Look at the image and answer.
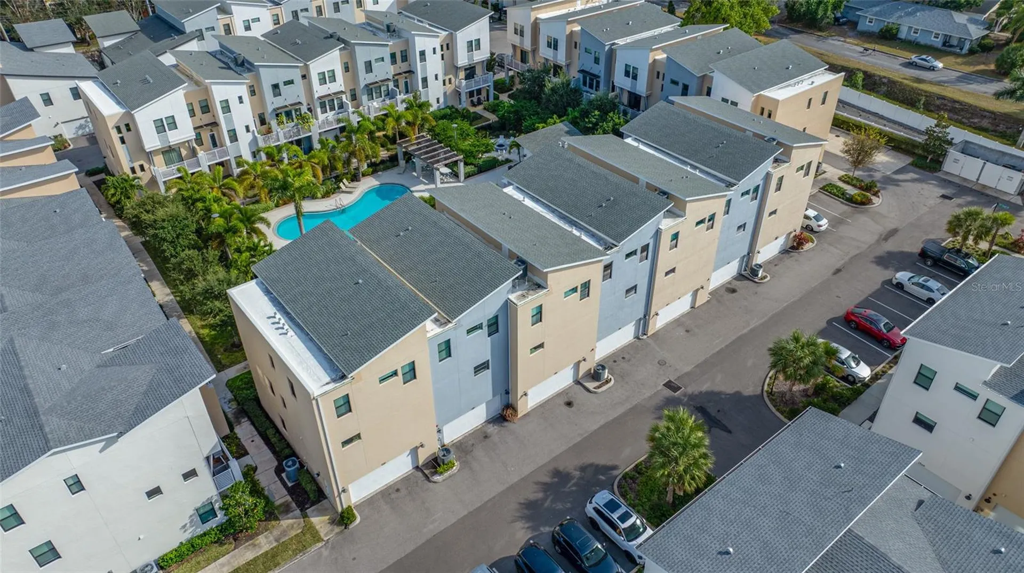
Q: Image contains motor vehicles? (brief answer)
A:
Yes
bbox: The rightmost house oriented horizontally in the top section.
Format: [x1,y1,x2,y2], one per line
[823,0,1004,56]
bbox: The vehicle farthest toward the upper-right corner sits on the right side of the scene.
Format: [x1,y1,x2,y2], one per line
[908,56,943,70]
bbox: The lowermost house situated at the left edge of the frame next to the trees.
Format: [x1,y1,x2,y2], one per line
[0,182,245,573]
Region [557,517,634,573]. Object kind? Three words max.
car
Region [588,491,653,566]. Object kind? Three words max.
car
